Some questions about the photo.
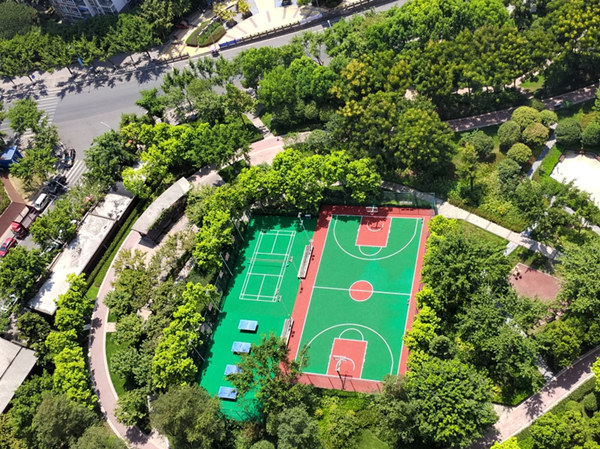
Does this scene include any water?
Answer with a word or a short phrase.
No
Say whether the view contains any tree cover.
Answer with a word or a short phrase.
Yes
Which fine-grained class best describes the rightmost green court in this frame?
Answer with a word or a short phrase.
basketball court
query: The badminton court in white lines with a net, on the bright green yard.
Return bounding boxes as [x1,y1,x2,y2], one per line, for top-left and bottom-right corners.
[239,230,295,302]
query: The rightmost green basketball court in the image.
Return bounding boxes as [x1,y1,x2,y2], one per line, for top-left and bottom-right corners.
[289,205,435,395]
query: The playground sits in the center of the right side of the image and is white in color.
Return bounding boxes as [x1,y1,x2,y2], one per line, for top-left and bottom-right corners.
[549,151,600,207]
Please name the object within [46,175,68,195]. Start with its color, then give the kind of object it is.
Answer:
black car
